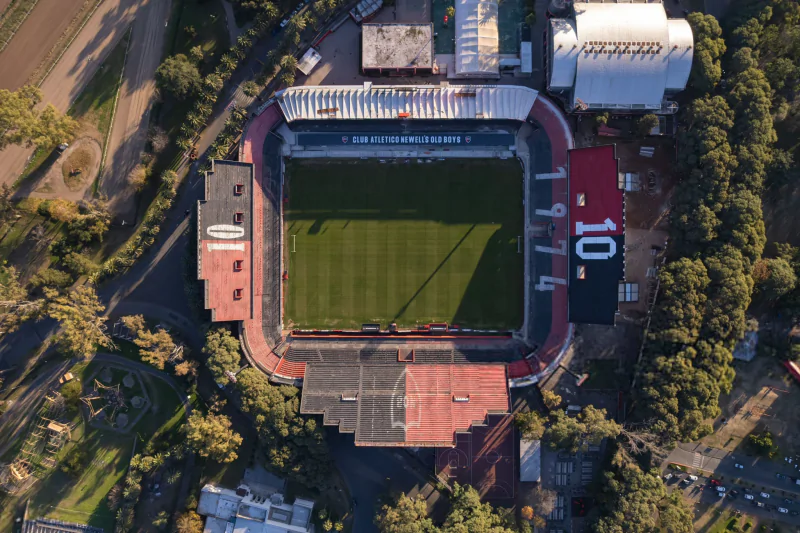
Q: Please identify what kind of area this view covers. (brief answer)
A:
sports ground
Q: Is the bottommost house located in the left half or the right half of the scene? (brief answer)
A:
left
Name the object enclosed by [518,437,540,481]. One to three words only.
shed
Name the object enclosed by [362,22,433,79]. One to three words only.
building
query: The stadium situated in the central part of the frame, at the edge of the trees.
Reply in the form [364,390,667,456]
[197,81,639,447]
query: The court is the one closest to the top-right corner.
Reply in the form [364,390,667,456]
[498,0,521,54]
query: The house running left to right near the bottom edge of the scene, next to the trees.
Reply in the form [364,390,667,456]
[197,480,316,533]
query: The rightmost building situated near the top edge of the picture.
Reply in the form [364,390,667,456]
[542,0,695,118]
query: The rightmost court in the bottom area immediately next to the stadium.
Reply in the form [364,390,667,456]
[470,400,517,502]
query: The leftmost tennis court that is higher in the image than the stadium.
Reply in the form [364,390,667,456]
[433,0,454,54]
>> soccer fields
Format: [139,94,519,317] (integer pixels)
[283,156,524,333]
